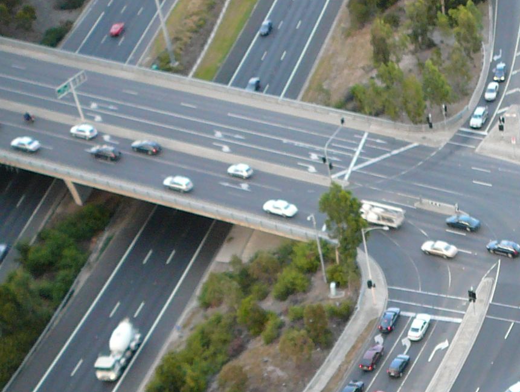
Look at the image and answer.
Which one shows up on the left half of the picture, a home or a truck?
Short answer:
truck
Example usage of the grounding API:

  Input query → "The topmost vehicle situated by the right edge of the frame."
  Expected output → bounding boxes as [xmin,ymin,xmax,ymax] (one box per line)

[493,63,506,82]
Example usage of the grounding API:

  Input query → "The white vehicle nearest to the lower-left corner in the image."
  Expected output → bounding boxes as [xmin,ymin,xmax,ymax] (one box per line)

[92,316,138,380]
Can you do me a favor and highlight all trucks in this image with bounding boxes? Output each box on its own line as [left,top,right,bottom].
[356,198,411,229]
[92,316,138,380]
